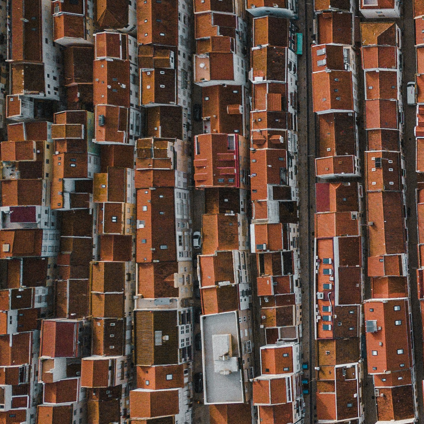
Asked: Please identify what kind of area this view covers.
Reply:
residential area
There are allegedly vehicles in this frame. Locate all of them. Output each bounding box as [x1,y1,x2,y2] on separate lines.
[193,231,202,248]
[193,103,203,122]
[194,333,202,352]
[407,84,416,104]
[193,306,202,325]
